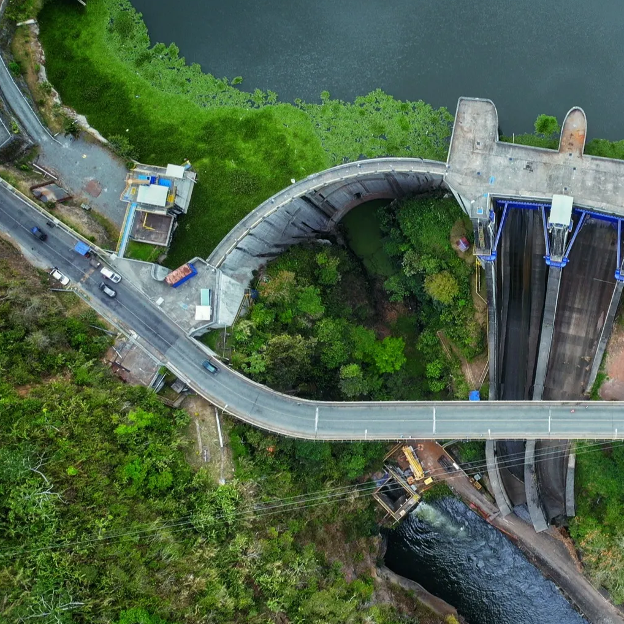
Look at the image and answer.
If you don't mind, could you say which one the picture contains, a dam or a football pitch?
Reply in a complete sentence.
This aerial view contains a dam.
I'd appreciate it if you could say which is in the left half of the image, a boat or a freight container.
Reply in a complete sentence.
It is a freight container that can be seen in the left half of the image.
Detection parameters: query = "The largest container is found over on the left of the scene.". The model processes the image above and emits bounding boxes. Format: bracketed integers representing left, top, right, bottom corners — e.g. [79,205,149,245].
[166,262,199,287]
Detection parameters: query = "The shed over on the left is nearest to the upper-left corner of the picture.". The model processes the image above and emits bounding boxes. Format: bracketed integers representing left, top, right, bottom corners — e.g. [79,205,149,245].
[29,180,78,205]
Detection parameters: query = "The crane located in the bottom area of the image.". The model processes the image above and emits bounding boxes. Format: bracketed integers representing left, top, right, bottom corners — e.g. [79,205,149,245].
[395,441,434,481]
